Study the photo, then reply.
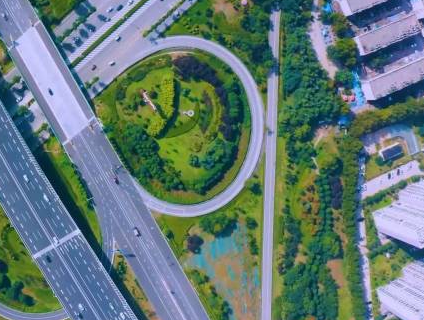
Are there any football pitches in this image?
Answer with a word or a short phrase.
No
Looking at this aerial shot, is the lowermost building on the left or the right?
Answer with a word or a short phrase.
right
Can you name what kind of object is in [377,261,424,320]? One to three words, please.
building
